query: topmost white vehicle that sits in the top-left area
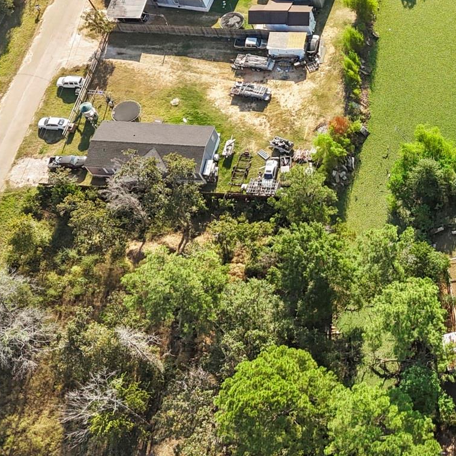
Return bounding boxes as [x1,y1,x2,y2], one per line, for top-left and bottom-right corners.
[55,76,86,91]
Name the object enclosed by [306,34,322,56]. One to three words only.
car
